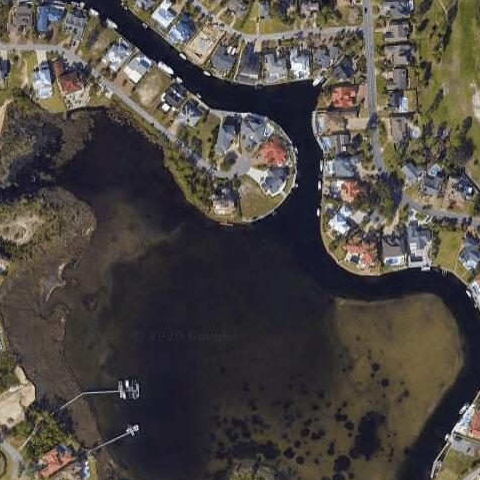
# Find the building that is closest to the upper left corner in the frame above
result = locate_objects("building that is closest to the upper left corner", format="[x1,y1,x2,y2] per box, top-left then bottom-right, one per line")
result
[13,4,34,28]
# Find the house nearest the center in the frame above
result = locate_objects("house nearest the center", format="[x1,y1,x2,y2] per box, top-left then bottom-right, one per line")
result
[214,189,234,209]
